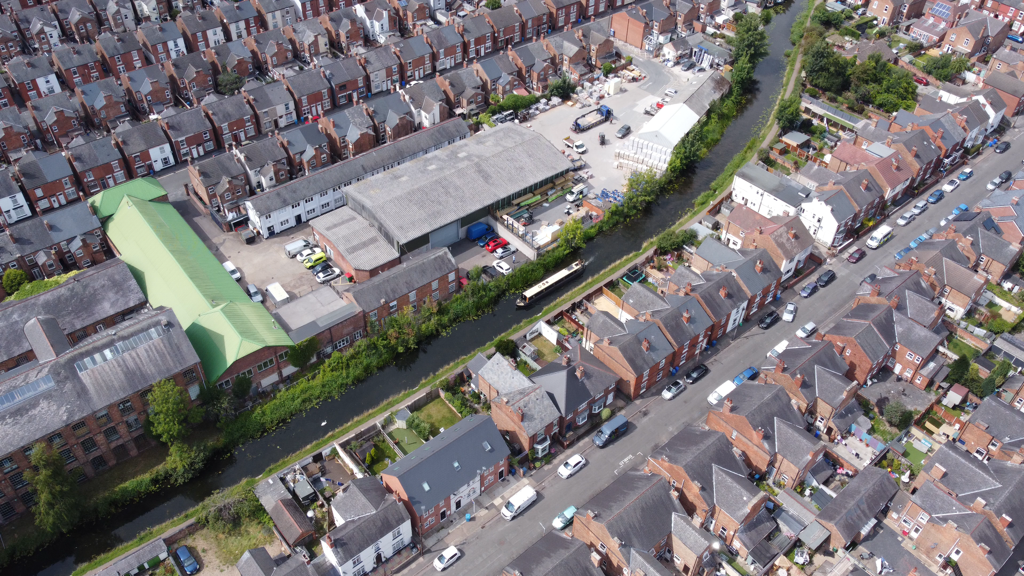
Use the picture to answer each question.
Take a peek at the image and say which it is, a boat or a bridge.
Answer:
boat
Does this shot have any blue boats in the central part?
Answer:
No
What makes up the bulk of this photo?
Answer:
buildings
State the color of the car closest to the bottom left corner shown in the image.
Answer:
blue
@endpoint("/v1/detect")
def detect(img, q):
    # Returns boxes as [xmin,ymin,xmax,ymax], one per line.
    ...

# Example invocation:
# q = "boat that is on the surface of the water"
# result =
[519,259,586,309]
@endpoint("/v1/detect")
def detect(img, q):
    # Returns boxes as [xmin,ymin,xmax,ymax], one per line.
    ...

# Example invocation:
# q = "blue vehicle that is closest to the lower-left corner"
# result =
[174,545,199,576]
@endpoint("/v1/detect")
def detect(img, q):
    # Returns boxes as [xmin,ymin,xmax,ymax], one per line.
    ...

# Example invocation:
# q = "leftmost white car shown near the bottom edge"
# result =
[431,545,464,571]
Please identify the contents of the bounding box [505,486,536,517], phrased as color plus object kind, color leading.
white van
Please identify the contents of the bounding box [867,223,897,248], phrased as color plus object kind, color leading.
white vehicle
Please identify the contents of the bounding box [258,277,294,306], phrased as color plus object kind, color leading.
white truck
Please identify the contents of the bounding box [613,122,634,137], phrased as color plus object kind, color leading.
gray car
